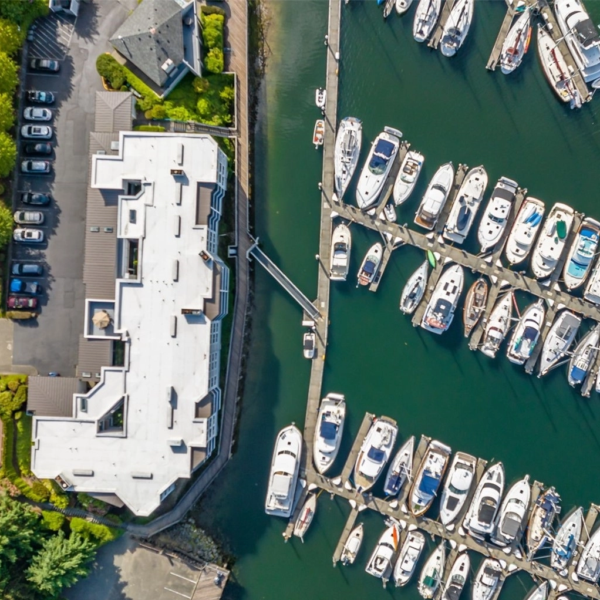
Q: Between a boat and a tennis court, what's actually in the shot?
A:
boat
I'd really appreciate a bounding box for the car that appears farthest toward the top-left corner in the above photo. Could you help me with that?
[30,57,61,73]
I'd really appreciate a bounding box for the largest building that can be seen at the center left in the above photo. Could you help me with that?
[31,131,230,515]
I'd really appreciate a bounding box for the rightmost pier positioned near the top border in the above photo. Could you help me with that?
[541,1,592,104]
